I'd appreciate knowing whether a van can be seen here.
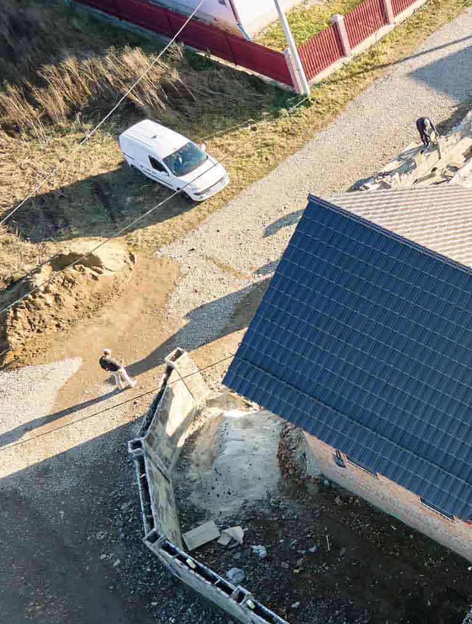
Yes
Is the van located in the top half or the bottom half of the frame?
top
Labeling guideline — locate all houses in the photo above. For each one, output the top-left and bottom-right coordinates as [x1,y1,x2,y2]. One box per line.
[222,183,472,563]
[138,0,310,42]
